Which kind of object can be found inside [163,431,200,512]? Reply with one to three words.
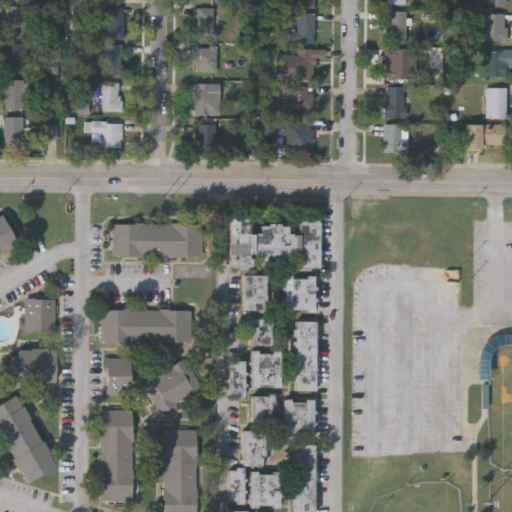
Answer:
building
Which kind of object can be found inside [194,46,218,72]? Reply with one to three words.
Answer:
house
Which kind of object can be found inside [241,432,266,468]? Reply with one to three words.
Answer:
building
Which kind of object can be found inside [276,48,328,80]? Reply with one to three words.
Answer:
house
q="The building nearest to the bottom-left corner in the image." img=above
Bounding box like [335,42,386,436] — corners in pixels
[0,398,56,484]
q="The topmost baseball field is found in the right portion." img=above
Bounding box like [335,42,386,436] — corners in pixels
[491,346,512,470]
